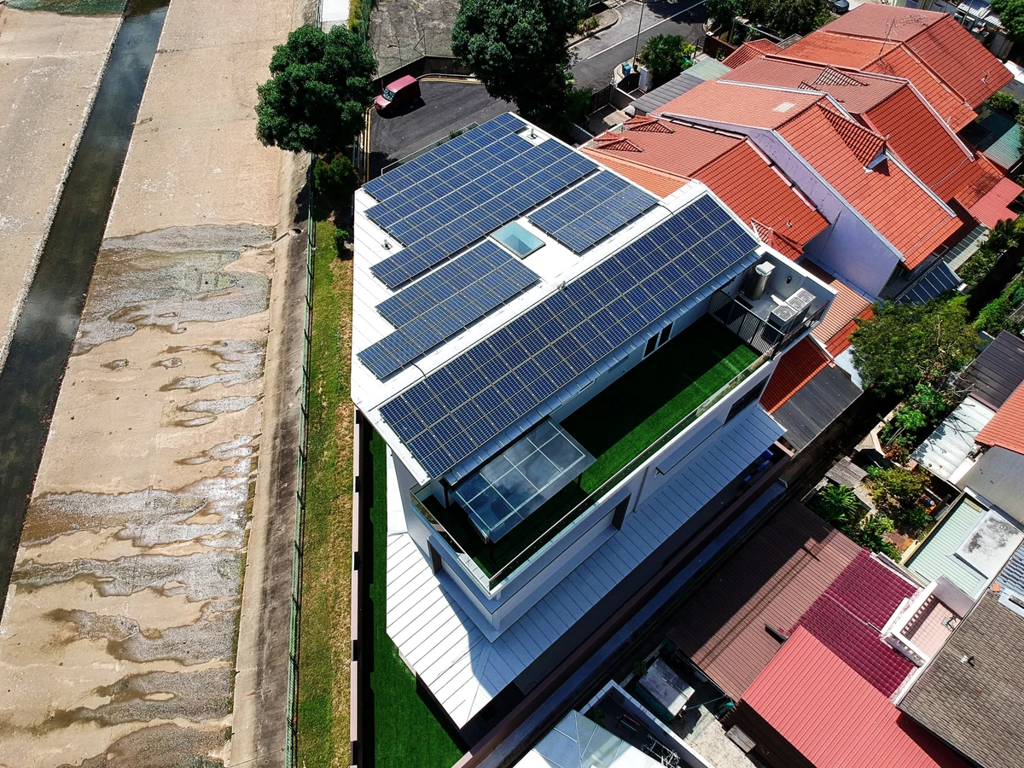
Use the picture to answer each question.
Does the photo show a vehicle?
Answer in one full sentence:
Yes, this view includes a vehicle.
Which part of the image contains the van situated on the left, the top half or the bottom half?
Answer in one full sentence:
The top half of the photo is where the van situated on the left is.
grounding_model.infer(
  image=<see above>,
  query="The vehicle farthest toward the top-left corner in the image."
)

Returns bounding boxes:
[371,75,423,121]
